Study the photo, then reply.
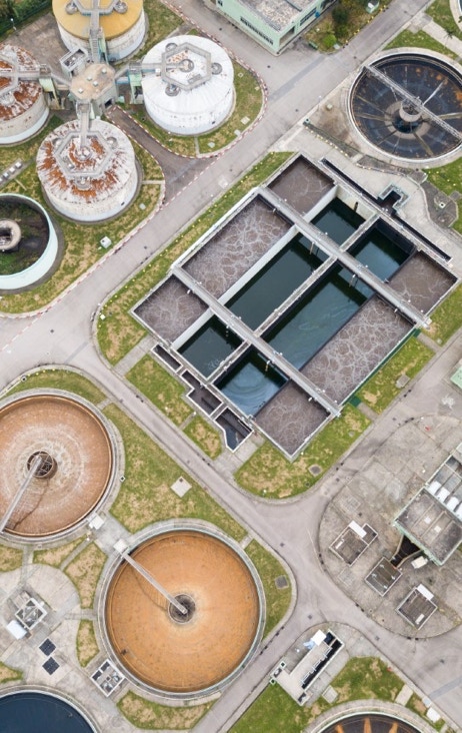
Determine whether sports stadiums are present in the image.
No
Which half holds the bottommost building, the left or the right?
right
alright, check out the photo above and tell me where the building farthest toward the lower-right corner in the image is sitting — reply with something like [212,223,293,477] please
[390,486,462,563]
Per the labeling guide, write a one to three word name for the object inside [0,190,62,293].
storage tank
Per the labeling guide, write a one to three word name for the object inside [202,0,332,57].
building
